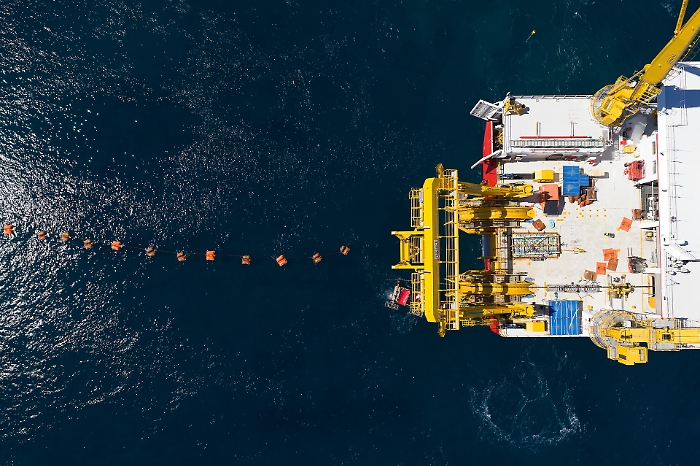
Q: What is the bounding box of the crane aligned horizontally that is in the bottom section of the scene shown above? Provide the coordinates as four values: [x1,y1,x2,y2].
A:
[589,310,700,364]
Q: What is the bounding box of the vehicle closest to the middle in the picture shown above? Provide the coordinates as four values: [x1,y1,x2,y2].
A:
[385,277,414,310]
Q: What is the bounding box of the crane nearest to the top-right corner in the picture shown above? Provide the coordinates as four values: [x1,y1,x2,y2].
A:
[587,0,700,128]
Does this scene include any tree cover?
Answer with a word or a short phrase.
No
